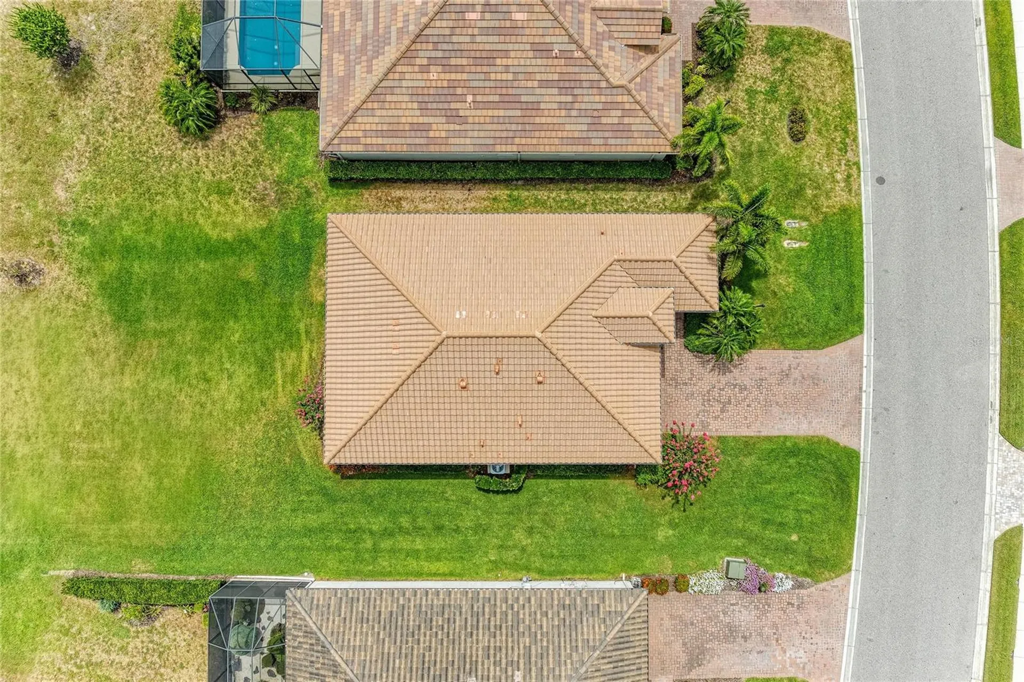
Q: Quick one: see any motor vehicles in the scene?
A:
No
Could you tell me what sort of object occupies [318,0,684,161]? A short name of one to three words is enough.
house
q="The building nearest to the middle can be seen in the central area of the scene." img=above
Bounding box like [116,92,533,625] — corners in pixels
[323,211,721,465]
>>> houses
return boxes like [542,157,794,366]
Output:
[284,579,650,682]
[318,0,684,161]
[323,211,721,465]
